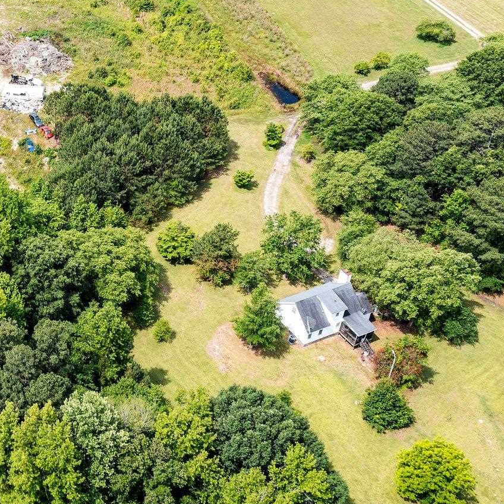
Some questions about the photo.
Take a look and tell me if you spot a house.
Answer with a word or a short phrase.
Yes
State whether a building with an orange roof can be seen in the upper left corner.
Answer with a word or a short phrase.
No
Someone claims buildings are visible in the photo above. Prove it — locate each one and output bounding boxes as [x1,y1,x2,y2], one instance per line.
[270,253,389,349]
[2,80,46,107]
